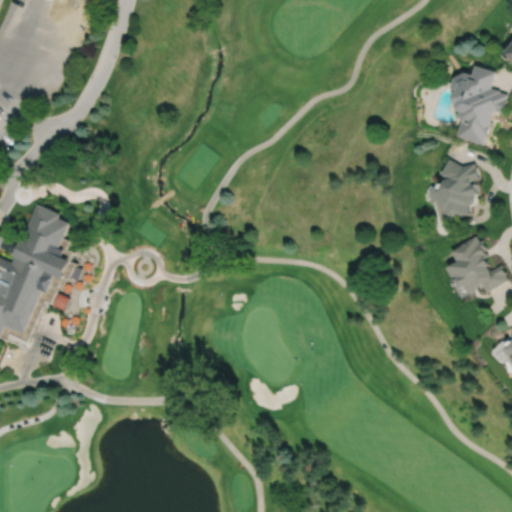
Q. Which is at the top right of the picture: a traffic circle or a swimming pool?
swimming pool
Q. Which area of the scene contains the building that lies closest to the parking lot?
left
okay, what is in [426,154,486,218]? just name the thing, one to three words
house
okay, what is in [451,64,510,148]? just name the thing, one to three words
house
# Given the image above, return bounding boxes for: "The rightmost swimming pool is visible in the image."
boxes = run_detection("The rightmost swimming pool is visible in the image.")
[422,84,460,127]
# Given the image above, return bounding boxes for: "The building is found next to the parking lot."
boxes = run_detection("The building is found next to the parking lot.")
[0,200,70,340]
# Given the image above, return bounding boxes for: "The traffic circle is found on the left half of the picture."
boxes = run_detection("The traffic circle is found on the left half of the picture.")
[125,248,164,286]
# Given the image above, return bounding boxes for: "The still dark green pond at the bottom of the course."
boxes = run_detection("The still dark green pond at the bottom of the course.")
[58,418,218,512]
